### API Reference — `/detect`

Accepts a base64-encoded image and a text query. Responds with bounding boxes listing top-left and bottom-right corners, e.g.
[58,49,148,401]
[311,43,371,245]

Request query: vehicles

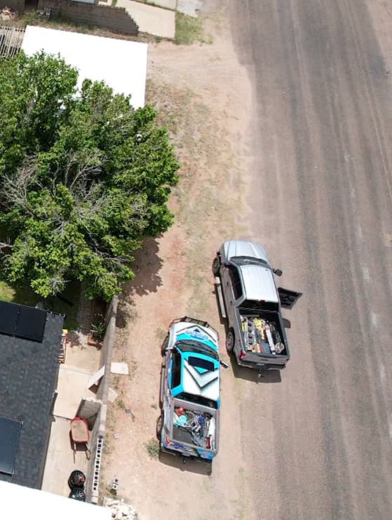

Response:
[215,242,310,377]
[156,316,229,467]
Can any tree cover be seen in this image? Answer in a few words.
Yes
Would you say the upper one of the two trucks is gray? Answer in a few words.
Yes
